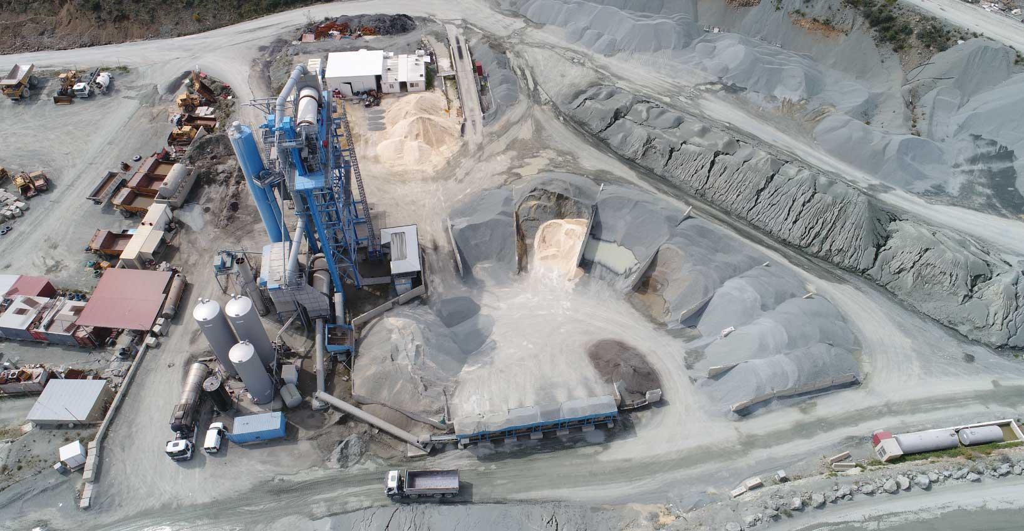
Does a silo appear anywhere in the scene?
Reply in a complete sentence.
Yes, this view includes a silo.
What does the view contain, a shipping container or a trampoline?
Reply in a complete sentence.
This aerial view contains a shipping container.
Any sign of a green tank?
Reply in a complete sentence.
No, no green tank is visible in the scene.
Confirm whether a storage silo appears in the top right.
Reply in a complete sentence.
No, I see no storage silo in the top right.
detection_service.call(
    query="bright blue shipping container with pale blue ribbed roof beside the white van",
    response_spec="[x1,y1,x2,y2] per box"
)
[216,410,291,446]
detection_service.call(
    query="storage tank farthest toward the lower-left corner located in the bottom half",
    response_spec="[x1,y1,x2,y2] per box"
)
[200,376,231,413]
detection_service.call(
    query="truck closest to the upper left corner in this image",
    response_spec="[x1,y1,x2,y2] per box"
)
[0,64,37,100]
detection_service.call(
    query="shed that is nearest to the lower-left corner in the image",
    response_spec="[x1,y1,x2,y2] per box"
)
[62,439,89,474]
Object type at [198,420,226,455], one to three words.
van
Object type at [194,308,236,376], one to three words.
silo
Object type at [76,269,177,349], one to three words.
shed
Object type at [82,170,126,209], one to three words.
trailer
